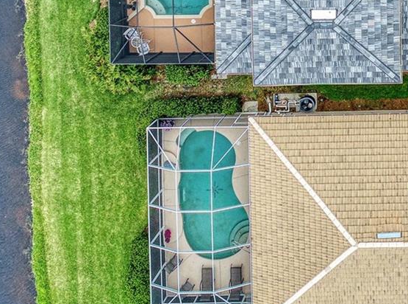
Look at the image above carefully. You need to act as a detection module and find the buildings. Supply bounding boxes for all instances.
[211,0,408,89]
[246,111,408,304]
